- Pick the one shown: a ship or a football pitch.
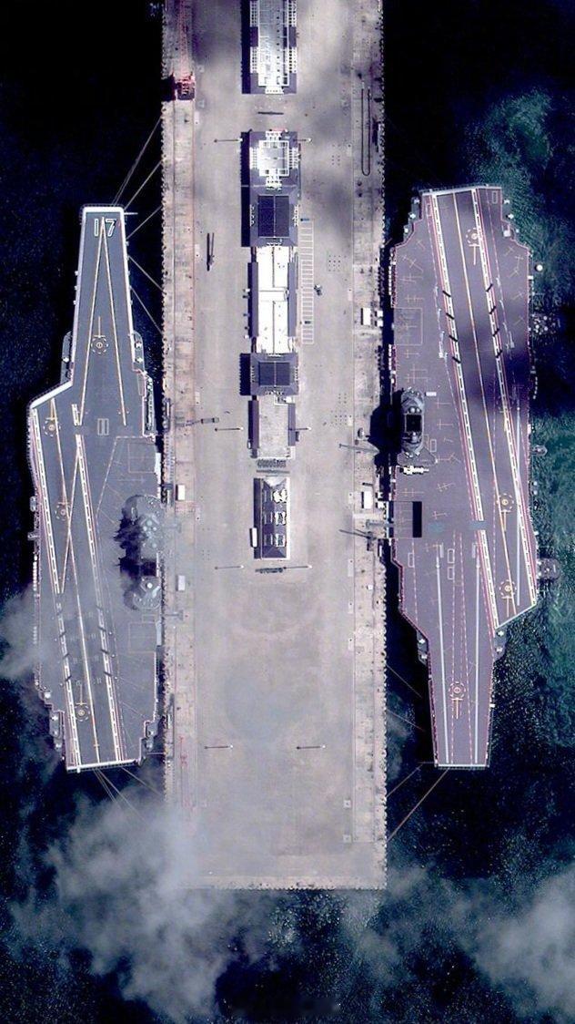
ship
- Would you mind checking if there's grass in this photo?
No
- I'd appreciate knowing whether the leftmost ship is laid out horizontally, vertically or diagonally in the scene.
vertically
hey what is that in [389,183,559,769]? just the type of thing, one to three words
ship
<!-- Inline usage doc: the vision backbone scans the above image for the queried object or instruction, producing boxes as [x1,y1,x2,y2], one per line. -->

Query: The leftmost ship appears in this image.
[28,203,164,773]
